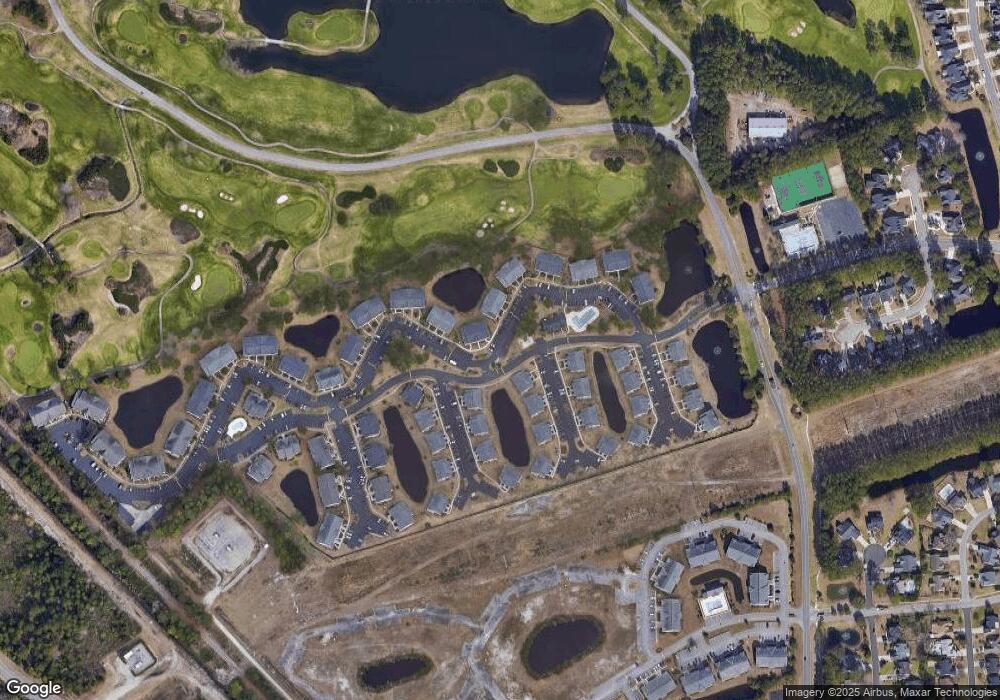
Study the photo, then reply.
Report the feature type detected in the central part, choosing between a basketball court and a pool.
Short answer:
pool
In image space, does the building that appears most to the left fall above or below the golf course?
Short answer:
below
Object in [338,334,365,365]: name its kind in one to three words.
building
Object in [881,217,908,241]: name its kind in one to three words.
house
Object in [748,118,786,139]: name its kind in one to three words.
barn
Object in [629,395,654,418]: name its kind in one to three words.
building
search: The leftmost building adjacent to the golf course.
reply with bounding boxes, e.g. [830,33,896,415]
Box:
[30,397,66,431]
